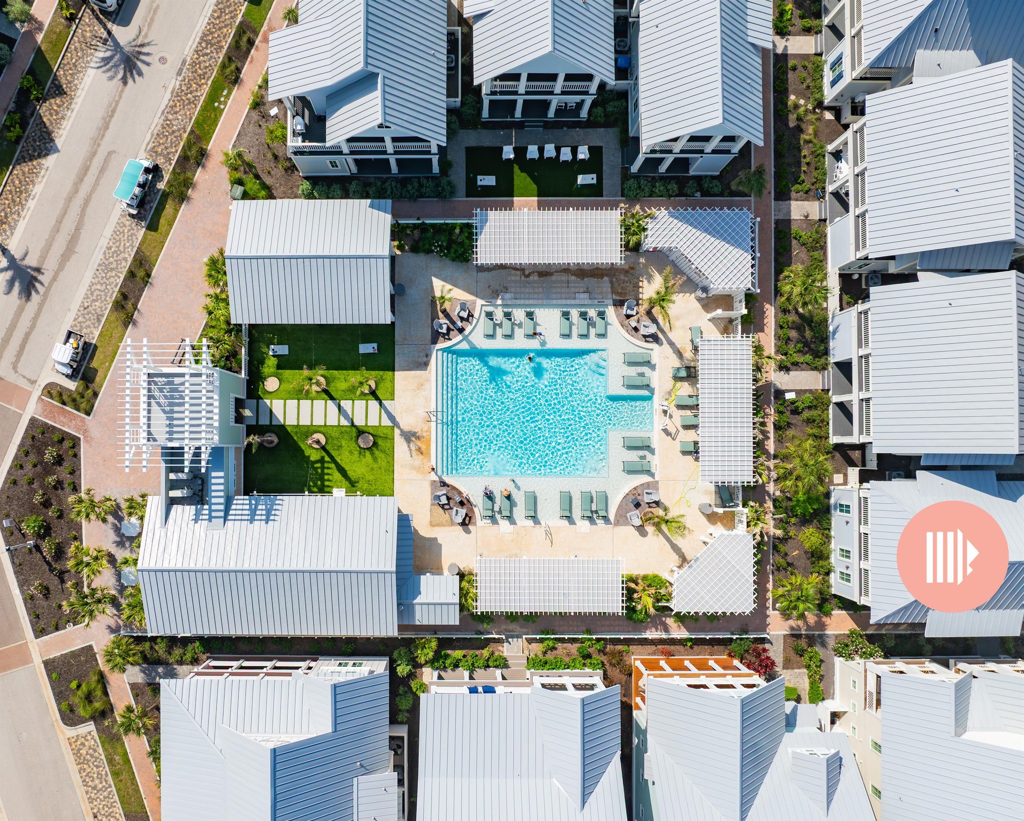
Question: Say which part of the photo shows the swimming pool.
center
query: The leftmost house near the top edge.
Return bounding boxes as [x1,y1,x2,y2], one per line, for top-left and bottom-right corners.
[269,0,447,178]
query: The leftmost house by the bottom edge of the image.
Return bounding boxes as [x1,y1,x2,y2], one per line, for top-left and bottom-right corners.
[159,657,411,821]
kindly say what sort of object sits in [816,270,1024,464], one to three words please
house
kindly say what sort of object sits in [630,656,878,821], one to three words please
house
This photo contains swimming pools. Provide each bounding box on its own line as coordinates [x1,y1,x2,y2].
[437,305,653,520]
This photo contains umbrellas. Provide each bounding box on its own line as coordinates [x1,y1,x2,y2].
[120,565,139,588]
[121,516,144,539]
